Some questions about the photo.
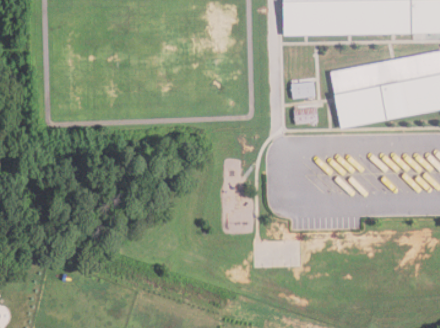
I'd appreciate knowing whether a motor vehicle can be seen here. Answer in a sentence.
Yes, there's a motor vehicle here.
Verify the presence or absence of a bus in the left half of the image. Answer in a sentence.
No, looking in the left half of the image, there is no bus.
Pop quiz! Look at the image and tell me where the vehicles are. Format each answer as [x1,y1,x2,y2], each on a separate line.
[390,152,412,172]
[312,156,333,176]
[402,153,424,174]
[334,154,355,174]
[400,173,422,194]
[413,152,434,173]
[414,176,432,192]
[421,172,440,192]
[424,153,440,172]
[326,158,348,177]
[334,176,355,196]
[368,152,388,172]
[348,176,368,197]
[380,153,400,174]
[344,154,366,174]
[380,176,398,194]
